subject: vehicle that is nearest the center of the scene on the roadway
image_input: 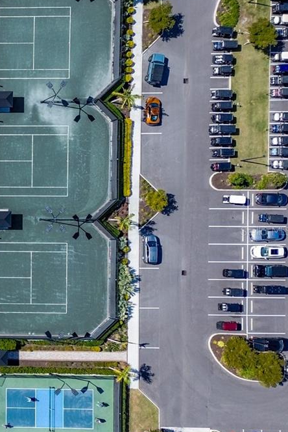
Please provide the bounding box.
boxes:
[141,234,158,265]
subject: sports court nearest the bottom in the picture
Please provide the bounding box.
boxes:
[0,378,115,432]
